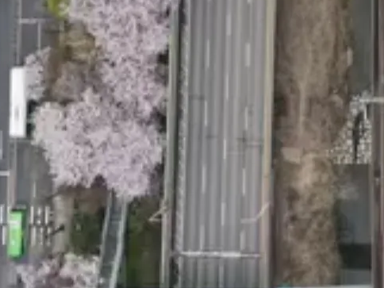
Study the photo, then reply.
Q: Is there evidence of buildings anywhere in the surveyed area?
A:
No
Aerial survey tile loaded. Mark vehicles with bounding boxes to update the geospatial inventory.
[9,204,32,255]
[9,67,33,137]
